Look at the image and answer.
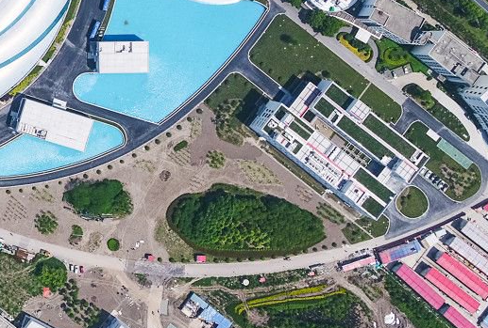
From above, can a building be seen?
Yes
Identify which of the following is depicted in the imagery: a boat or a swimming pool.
swimming pool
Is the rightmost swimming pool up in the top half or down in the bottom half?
top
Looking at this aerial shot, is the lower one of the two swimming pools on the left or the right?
left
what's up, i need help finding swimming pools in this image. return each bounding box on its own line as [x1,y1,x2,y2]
[0,116,128,180]
[71,0,269,127]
